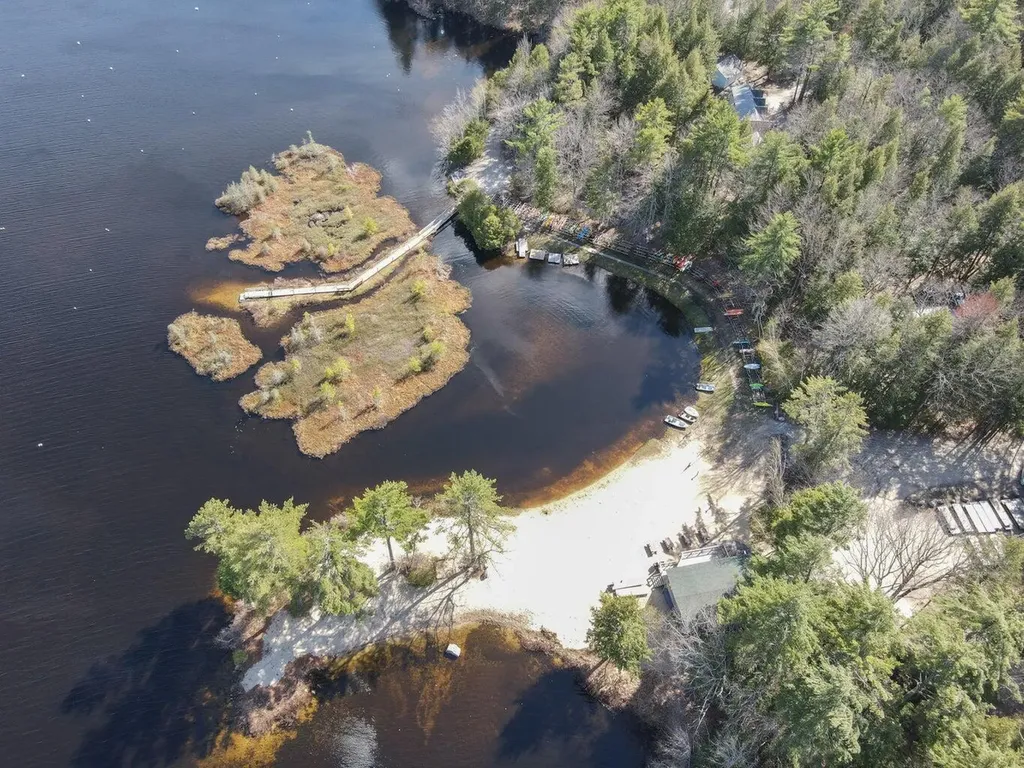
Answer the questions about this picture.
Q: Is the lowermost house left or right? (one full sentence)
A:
The lowermost house appears in the right half of the scene.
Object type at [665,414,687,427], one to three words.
boat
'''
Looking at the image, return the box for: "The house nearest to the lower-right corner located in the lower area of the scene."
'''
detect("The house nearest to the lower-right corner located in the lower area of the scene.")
[642,542,761,625]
